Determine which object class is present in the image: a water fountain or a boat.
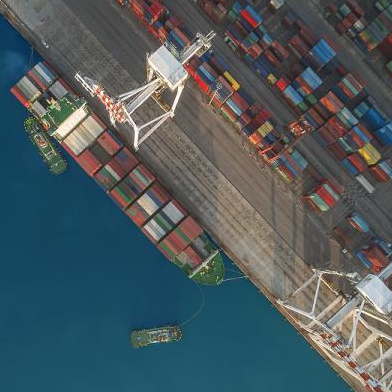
boat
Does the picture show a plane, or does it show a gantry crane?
gantry crane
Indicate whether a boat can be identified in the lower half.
Yes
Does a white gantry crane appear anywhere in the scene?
Yes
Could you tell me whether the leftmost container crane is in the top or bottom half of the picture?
top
